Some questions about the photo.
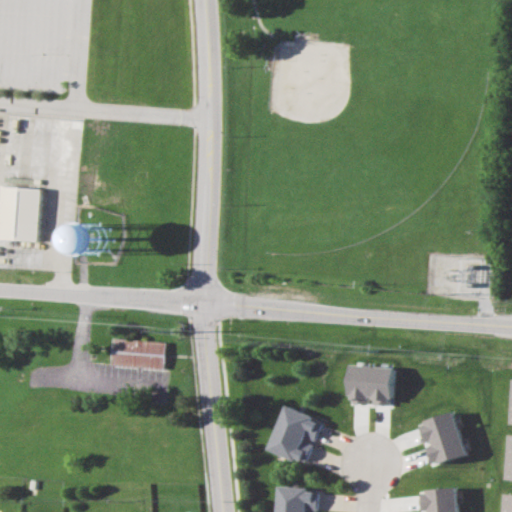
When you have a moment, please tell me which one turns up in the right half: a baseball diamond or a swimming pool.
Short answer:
baseball diamond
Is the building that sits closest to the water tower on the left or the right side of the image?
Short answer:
left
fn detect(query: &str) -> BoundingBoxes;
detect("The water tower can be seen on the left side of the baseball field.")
[52,221,114,258]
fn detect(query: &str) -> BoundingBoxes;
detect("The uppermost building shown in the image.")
[0,187,46,242]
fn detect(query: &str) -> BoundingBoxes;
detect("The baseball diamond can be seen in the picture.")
[267,34,488,255]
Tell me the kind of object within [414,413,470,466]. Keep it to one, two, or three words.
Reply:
house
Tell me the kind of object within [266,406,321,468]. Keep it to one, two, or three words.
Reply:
house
